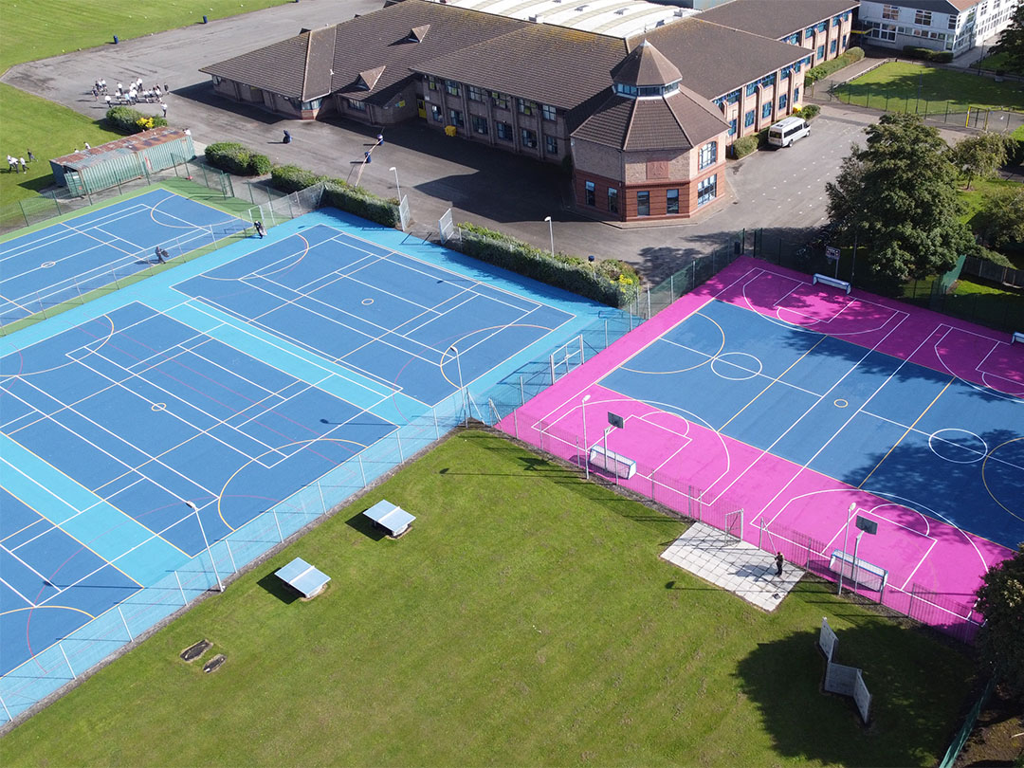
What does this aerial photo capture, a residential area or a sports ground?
sports ground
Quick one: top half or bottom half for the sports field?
top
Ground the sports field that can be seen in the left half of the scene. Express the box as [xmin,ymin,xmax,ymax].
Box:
[0,0,291,226]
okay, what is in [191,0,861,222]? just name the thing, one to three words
building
